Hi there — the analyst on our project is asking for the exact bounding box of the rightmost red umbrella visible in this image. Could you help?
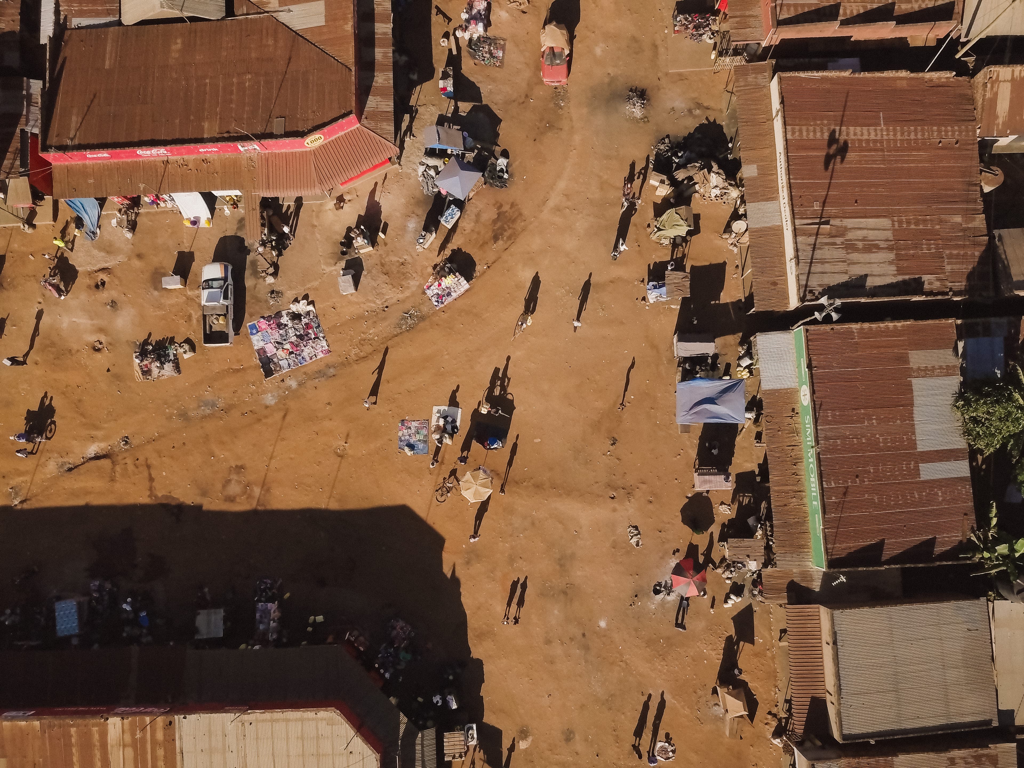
[670,558,709,598]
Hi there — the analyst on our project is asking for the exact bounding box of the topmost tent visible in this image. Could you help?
[425,125,463,158]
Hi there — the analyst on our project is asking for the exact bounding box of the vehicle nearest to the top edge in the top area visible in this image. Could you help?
[540,49,571,87]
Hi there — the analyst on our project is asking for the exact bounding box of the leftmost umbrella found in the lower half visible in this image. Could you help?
[458,467,495,504]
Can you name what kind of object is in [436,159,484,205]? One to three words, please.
umbrella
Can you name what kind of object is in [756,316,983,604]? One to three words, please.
building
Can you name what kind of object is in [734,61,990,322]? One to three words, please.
building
